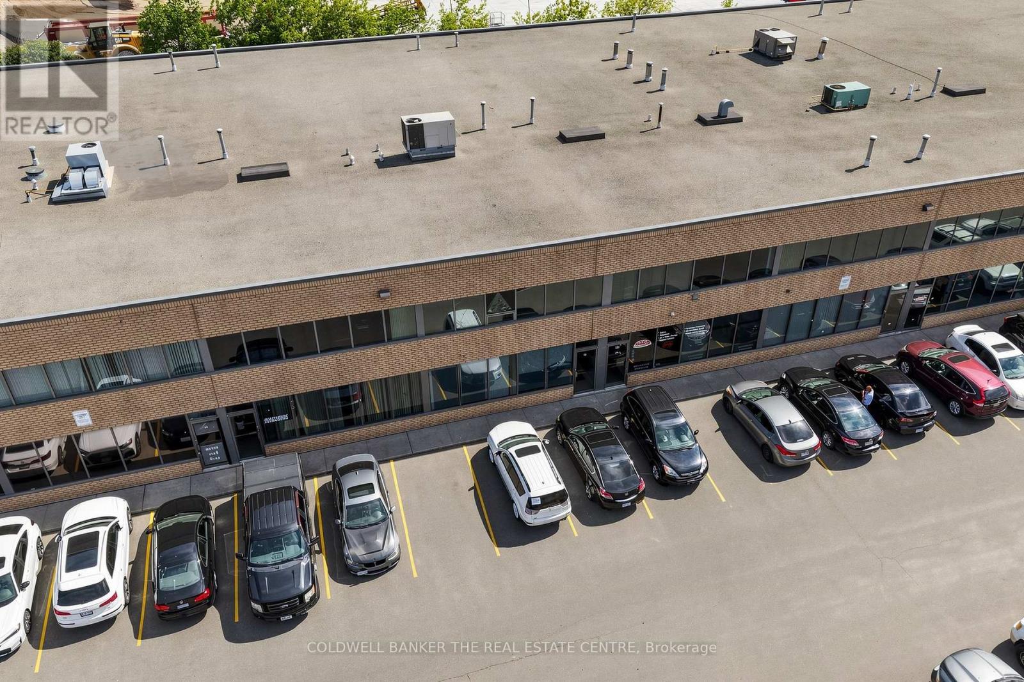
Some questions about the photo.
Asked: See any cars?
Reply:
Yes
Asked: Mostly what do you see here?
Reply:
buildings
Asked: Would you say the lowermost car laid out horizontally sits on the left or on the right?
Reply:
right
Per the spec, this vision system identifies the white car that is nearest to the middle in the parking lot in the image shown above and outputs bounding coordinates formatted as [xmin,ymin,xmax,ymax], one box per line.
[492,423,571,526]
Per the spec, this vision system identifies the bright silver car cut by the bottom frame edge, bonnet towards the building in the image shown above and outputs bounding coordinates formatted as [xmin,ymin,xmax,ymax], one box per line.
[930,645,1021,682]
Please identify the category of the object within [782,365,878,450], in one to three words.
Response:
car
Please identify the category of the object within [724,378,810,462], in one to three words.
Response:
car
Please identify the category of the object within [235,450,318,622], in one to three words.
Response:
truck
